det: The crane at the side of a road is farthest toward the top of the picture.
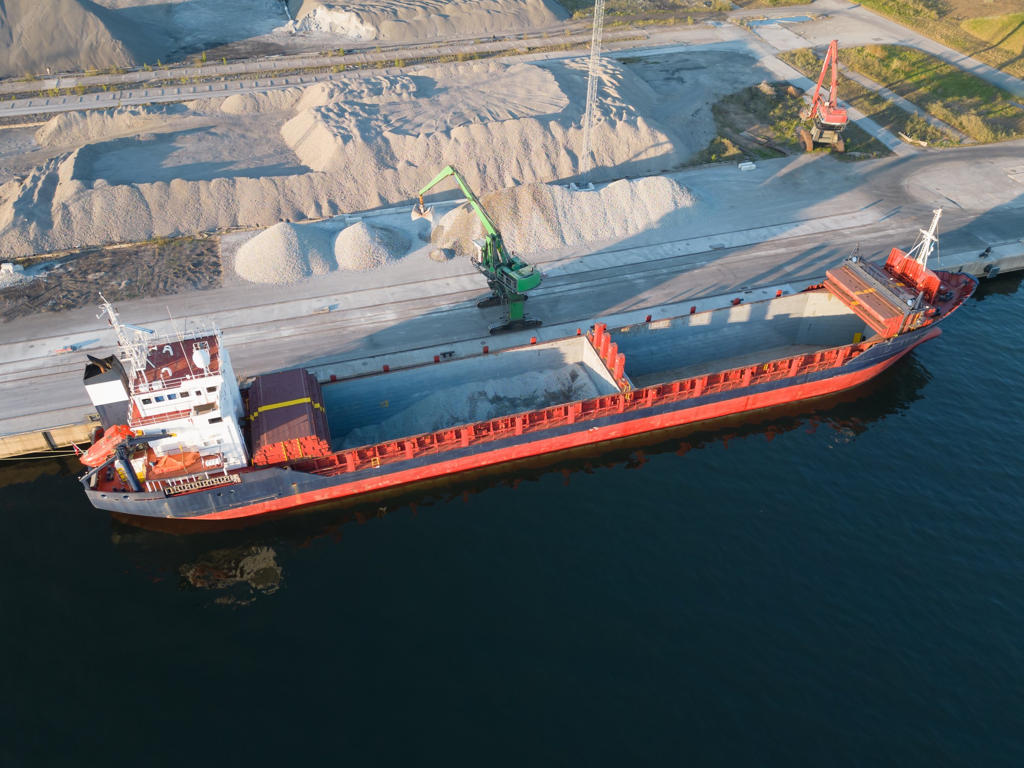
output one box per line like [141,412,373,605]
[779,37,855,149]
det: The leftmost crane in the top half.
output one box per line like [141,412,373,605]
[411,160,544,331]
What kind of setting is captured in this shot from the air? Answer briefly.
port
